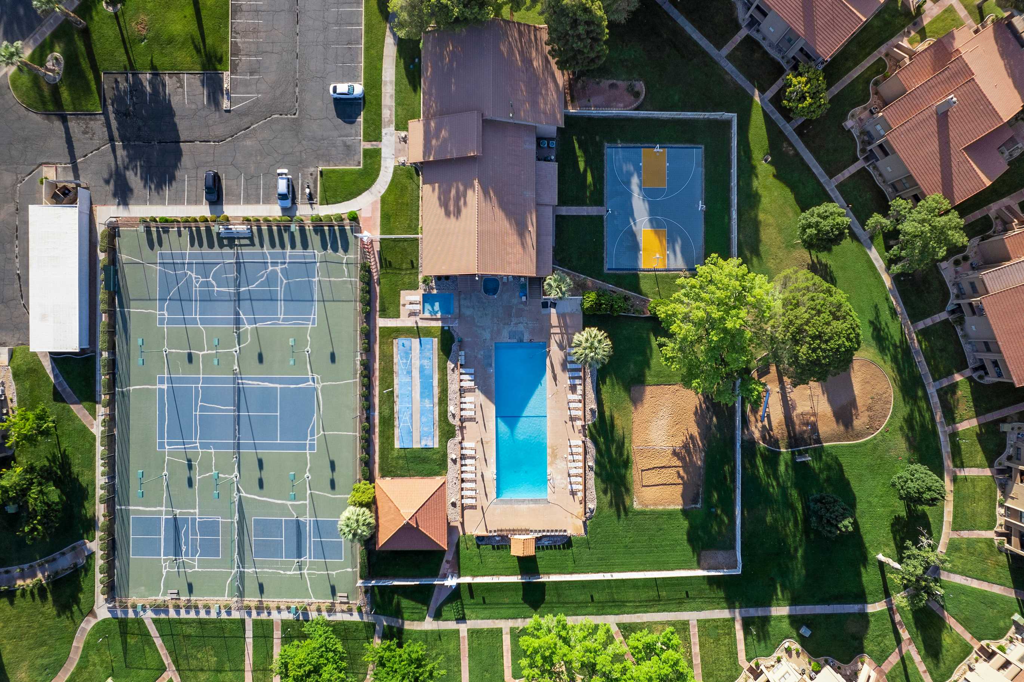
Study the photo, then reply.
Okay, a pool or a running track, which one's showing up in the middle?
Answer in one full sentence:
It is a pool that can be seen in the middle.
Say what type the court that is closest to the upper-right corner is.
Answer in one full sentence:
From above, the court that is closest to the upper-right corner can be identified as a basketball court.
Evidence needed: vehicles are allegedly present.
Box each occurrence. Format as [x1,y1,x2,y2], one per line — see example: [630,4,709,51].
[275,168,291,207]
[201,169,219,201]
[303,183,309,197]
[328,81,362,97]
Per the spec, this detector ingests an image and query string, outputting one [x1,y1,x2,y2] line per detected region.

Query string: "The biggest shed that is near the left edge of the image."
[28,204,91,351]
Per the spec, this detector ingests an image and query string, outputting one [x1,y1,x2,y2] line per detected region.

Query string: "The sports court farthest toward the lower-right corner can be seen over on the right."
[631,384,706,511]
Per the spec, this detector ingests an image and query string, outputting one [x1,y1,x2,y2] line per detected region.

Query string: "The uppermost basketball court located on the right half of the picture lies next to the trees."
[607,147,702,270]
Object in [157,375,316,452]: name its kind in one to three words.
tennis court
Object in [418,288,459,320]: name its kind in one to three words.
swimming pool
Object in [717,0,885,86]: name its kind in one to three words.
building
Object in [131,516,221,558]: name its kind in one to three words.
sports court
